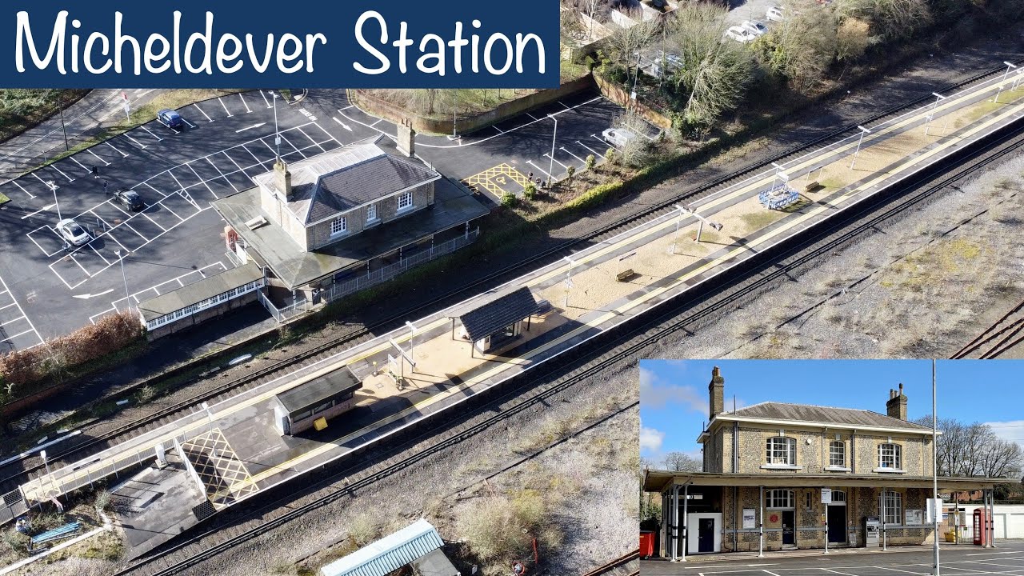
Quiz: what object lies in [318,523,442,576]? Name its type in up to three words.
shed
